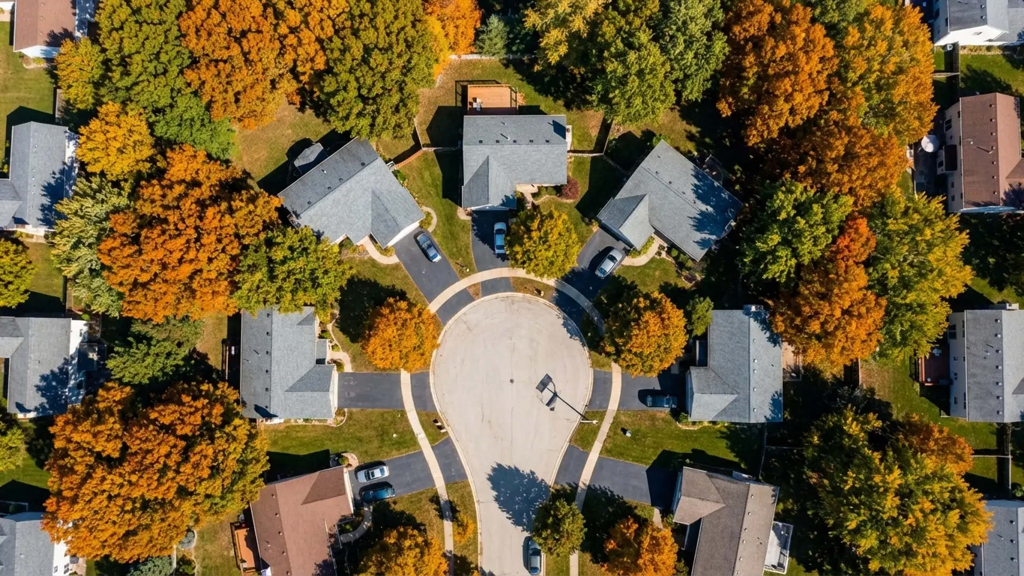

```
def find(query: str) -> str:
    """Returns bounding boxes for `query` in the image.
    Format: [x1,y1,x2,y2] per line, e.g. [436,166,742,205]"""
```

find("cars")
[354,461,392,482]
[527,538,543,573]
[360,484,397,505]
[644,393,680,411]
[492,221,508,256]
[414,230,444,264]
[594,247,624,280]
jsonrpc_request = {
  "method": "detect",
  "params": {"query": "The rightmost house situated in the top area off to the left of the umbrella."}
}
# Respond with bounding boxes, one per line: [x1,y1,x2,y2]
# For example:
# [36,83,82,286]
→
[596,139,742,262]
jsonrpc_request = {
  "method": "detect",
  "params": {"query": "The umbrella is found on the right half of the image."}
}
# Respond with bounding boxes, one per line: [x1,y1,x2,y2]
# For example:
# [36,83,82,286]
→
[918,135,938,153]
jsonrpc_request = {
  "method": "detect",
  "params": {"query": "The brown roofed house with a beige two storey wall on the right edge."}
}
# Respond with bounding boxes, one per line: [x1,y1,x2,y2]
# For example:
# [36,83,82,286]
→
[932,94,1024,210]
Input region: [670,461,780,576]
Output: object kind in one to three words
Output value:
house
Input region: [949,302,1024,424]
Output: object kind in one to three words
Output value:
house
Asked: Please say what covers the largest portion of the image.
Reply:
trees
